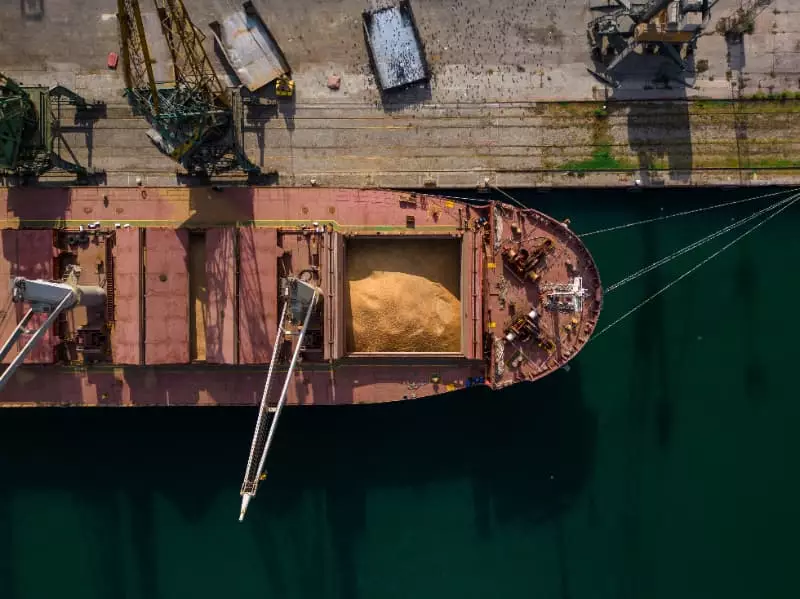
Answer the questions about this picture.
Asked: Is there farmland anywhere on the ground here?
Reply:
No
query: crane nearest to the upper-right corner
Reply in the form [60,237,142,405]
[585,0,708,90]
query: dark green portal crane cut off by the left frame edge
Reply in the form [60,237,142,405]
[0,64,105,176]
